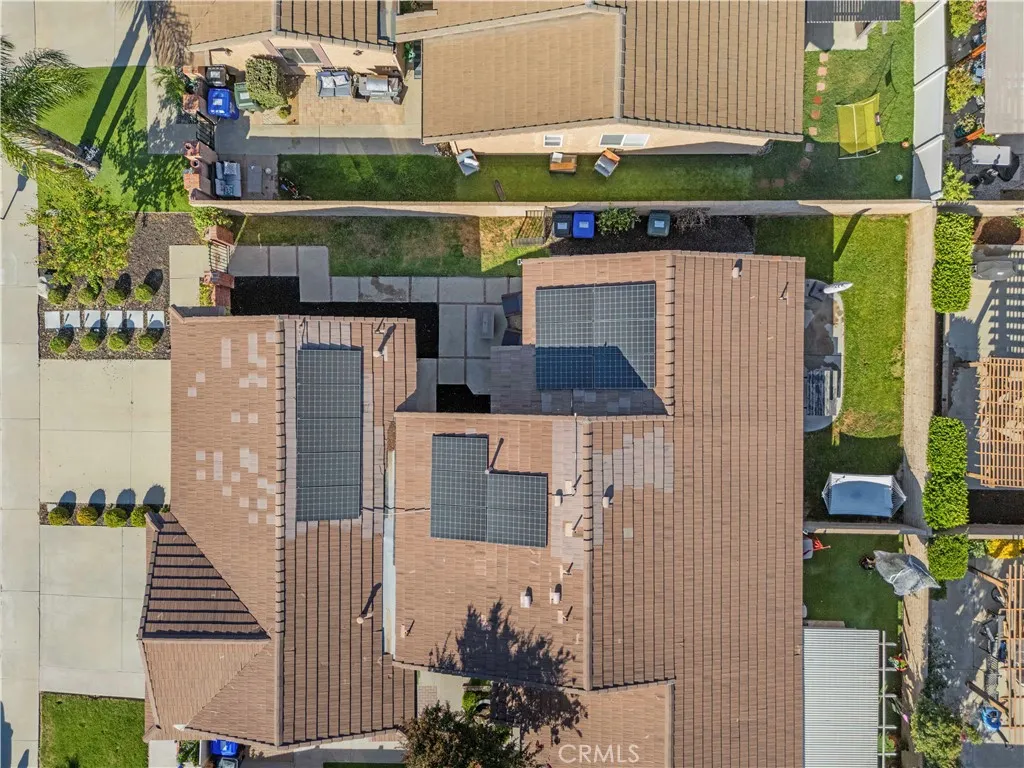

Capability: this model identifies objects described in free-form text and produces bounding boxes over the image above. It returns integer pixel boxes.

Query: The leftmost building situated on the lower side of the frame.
[136,249,806,768]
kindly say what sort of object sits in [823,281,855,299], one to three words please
umbrella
